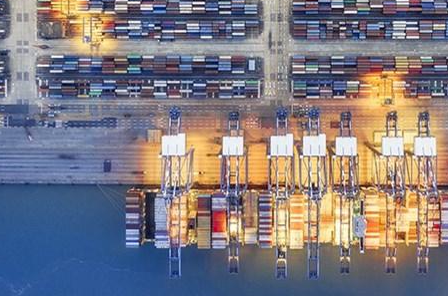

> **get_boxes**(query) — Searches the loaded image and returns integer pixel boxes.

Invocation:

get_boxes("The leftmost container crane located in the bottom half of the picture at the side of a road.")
[162,105,196,278]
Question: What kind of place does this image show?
port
